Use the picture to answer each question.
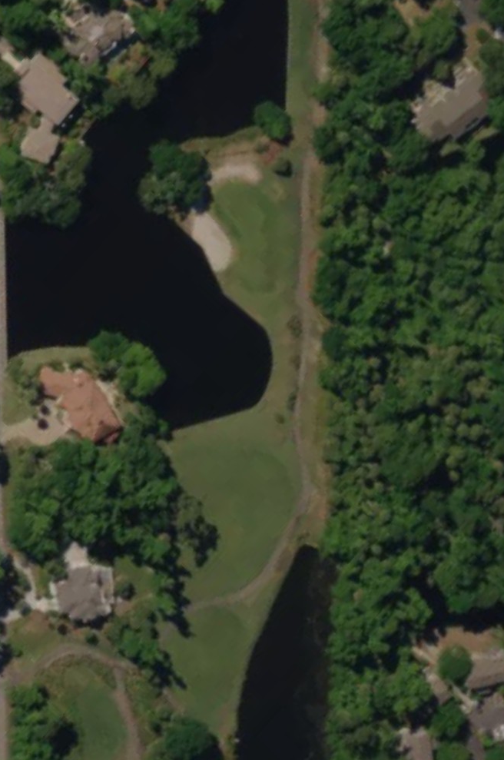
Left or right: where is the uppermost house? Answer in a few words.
left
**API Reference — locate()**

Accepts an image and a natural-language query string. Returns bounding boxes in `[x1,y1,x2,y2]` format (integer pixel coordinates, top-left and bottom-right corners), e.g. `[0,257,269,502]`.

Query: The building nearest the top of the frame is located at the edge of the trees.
[67,7,134,66]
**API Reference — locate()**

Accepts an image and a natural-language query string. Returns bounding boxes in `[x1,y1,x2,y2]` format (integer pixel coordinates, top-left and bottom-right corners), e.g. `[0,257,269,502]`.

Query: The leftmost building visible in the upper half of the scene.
[14,55,83,164]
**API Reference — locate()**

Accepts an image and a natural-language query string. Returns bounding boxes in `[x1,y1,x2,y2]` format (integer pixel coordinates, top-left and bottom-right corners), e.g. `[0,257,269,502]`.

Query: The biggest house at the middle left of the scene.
[40,367,130,444]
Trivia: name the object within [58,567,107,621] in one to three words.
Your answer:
house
